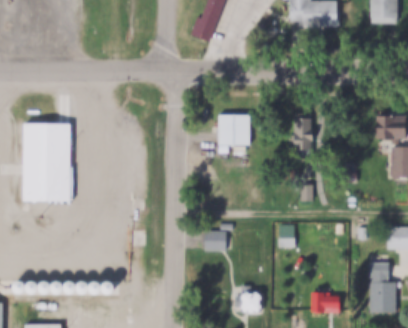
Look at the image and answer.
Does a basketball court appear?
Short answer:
No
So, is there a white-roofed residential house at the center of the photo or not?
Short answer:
Yes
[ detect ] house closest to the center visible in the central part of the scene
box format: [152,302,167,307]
[218,114,252,158]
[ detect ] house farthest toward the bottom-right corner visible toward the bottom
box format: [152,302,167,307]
[370,255,398,316]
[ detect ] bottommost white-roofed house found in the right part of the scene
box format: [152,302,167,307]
[234,292,262,316]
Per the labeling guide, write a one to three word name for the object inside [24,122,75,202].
building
